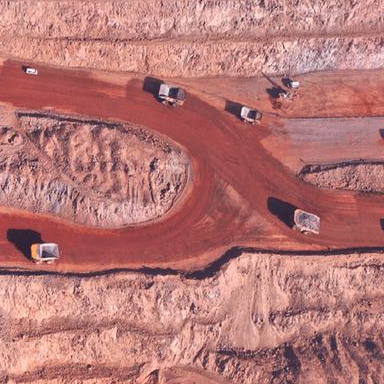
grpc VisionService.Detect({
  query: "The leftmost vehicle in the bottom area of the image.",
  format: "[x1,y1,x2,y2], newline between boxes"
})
[31,243,60,263]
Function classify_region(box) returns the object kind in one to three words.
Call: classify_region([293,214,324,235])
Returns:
truck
